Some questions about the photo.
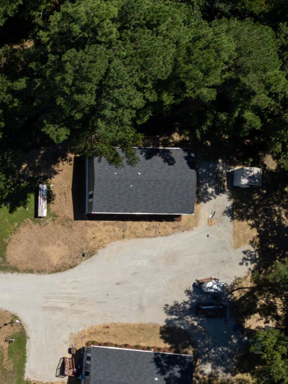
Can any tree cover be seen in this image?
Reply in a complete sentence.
Yes, some tree cover is visible.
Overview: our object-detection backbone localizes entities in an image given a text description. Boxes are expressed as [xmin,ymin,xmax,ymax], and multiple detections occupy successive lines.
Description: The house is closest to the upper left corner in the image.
[86,136,201,214]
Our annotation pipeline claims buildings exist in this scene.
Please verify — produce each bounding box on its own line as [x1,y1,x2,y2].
[233,168,262,186]
[86,136,201,214]
[63,345,195,384]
